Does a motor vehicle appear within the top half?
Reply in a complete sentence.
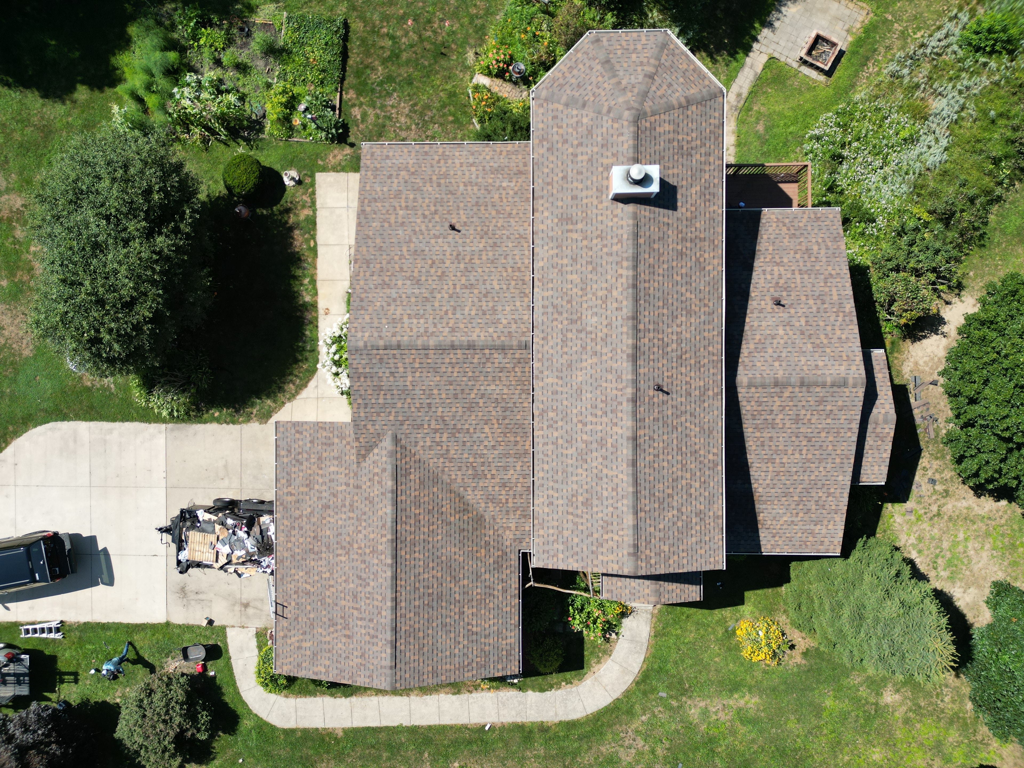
No, no motor vehicle is visible within the top half.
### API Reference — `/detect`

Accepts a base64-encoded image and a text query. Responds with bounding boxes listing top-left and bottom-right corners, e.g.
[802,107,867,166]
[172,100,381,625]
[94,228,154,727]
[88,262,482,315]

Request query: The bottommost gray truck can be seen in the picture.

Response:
[0,640,30,704]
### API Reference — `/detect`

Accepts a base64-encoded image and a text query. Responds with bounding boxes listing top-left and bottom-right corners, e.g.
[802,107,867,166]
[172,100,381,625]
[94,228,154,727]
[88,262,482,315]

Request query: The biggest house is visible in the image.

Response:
[273,29,897,689]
